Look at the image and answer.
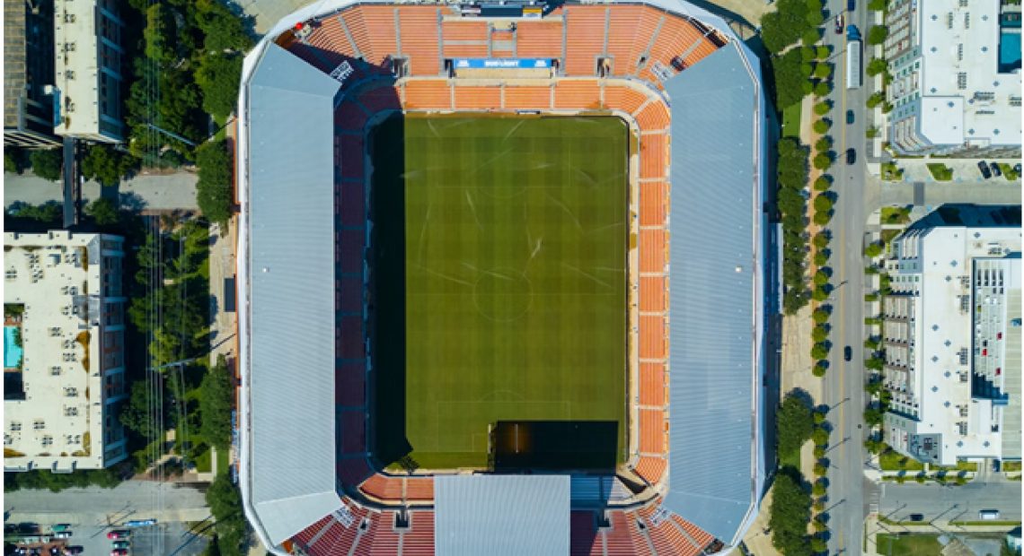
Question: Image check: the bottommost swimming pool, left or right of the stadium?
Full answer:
The bottommost swimming pool appears to the left of the stadium in this view.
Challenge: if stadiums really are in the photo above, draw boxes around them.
[238,0,767,556]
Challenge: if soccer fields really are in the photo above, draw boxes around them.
[371,110,627,469]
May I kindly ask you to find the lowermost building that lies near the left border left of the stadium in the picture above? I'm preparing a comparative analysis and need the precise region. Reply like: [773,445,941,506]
[0,229,129,473]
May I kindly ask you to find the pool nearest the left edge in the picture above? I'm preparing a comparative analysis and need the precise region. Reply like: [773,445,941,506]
[0,314,22,375]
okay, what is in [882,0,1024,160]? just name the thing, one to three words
building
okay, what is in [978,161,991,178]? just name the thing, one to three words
vehicle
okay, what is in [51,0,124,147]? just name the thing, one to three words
building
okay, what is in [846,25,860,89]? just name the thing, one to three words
vehicle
